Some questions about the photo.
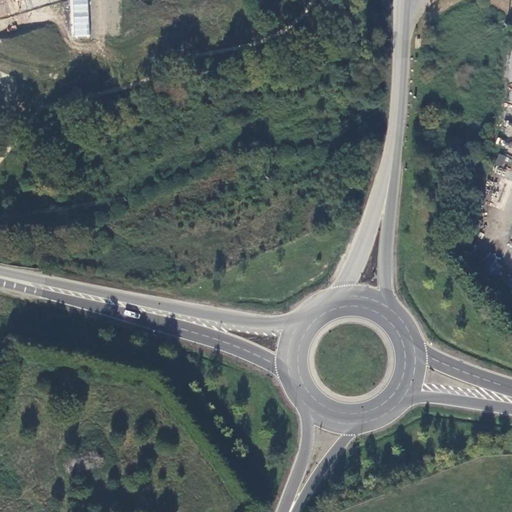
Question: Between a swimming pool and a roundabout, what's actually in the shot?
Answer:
roundabout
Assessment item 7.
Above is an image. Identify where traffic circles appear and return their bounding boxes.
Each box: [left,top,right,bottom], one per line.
[276,284,426,434]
